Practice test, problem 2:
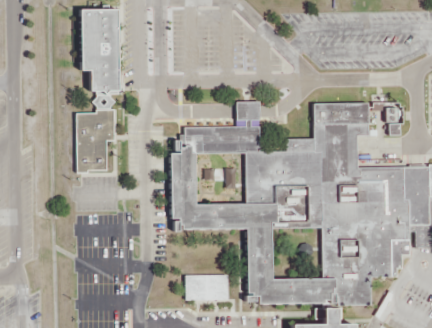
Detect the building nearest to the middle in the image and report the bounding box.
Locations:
[202,168,236,188]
